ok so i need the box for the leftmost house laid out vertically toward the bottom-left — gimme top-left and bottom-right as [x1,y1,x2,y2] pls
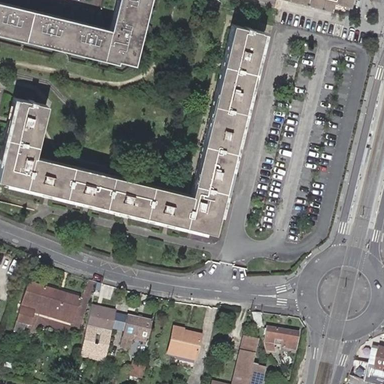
[80,304,116,360]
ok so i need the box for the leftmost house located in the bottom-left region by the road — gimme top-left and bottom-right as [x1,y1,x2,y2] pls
[15,280,96,332]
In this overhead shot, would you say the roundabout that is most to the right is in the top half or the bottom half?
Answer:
bottom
